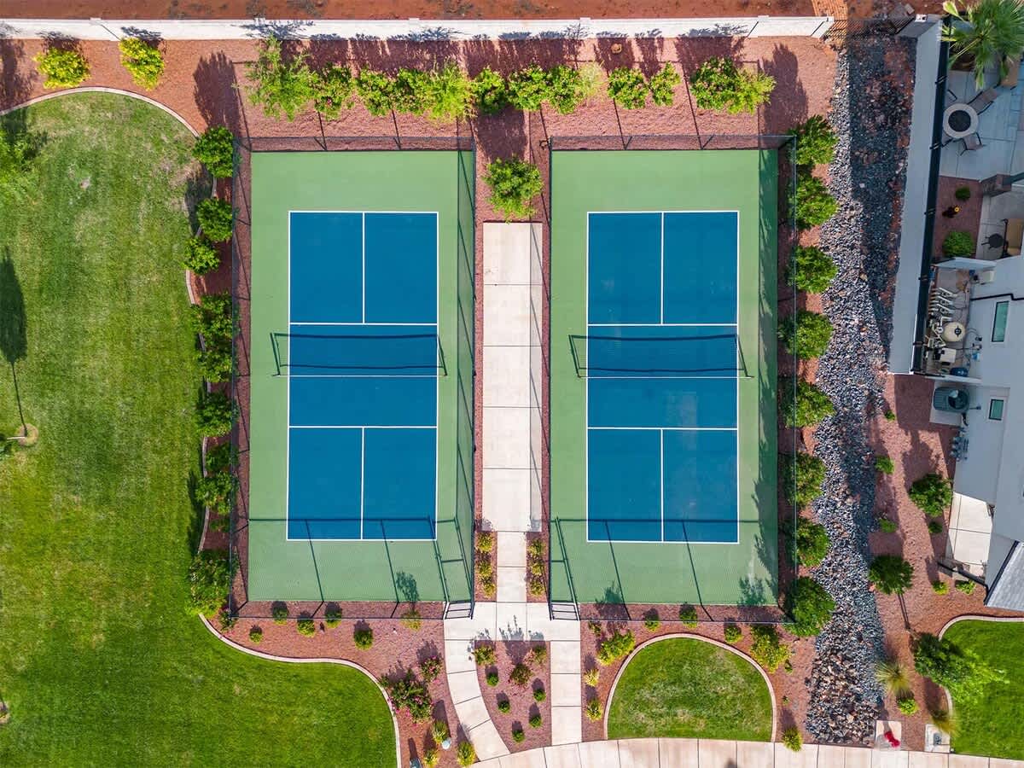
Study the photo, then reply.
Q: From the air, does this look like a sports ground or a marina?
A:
sports ground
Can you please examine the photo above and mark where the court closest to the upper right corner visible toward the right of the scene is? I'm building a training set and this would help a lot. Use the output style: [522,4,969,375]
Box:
[550,150,778,606]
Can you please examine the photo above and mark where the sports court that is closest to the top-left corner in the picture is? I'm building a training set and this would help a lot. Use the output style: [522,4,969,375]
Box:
[248,151,474,603]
